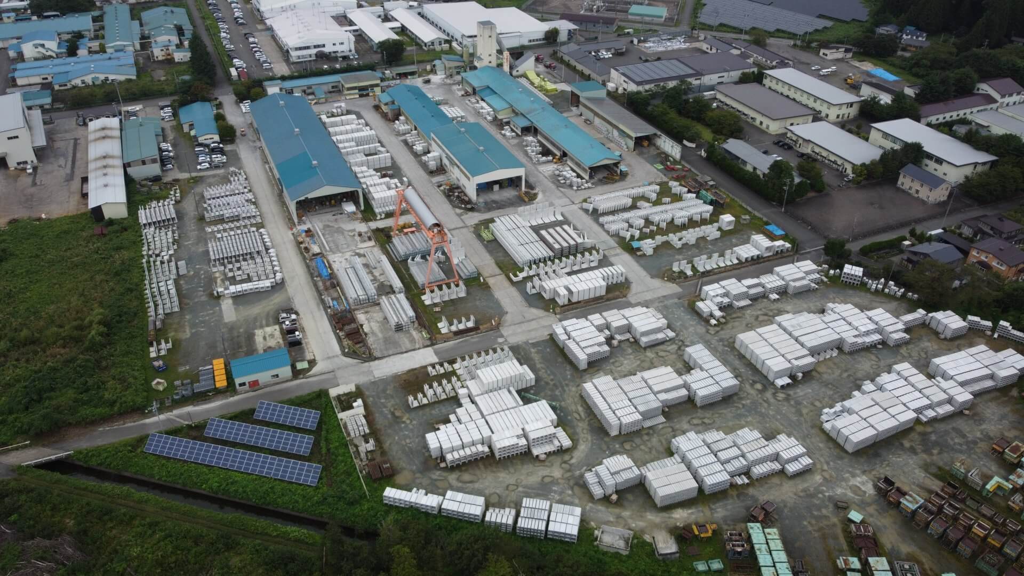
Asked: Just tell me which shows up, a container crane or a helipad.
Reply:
container crane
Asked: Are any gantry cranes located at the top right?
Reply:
No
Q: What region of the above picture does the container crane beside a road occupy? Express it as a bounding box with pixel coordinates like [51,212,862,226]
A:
[400,180,461,289]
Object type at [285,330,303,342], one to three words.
vehicle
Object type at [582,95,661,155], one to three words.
shed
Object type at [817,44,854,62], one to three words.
building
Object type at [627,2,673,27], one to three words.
building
